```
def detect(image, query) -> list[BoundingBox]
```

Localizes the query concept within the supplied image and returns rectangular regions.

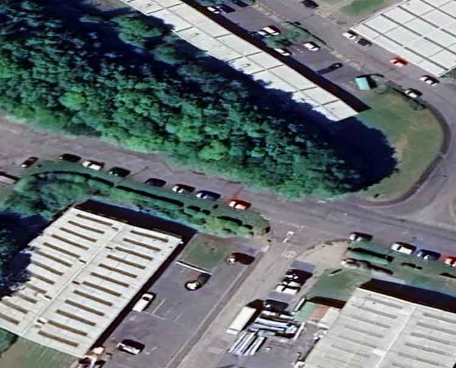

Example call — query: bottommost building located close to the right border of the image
[303,287,456,368]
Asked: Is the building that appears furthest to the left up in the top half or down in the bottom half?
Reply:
bottom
